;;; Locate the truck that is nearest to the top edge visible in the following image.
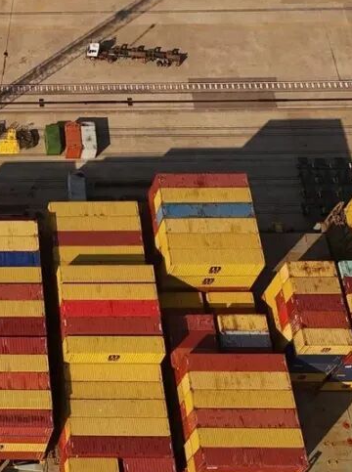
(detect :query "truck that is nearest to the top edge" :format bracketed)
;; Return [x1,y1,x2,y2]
[85,40,174,69]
